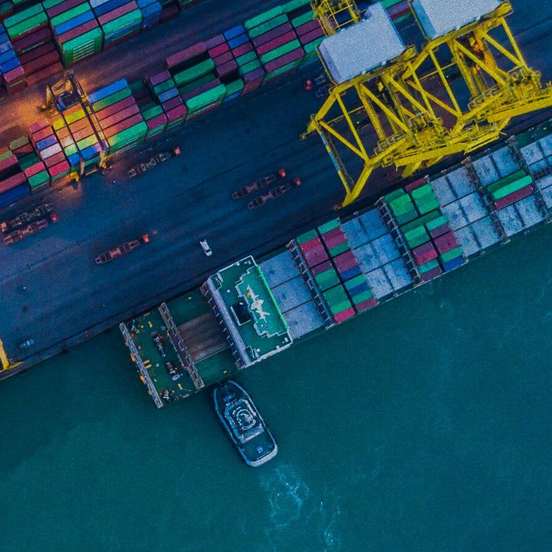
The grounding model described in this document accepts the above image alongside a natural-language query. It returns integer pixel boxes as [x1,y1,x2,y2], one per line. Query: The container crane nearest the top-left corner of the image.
[36,72,111,187]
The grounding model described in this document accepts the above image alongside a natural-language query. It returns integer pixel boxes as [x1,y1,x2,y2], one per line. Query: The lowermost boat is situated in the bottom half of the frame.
[217,382,280,471]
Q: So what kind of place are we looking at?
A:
port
